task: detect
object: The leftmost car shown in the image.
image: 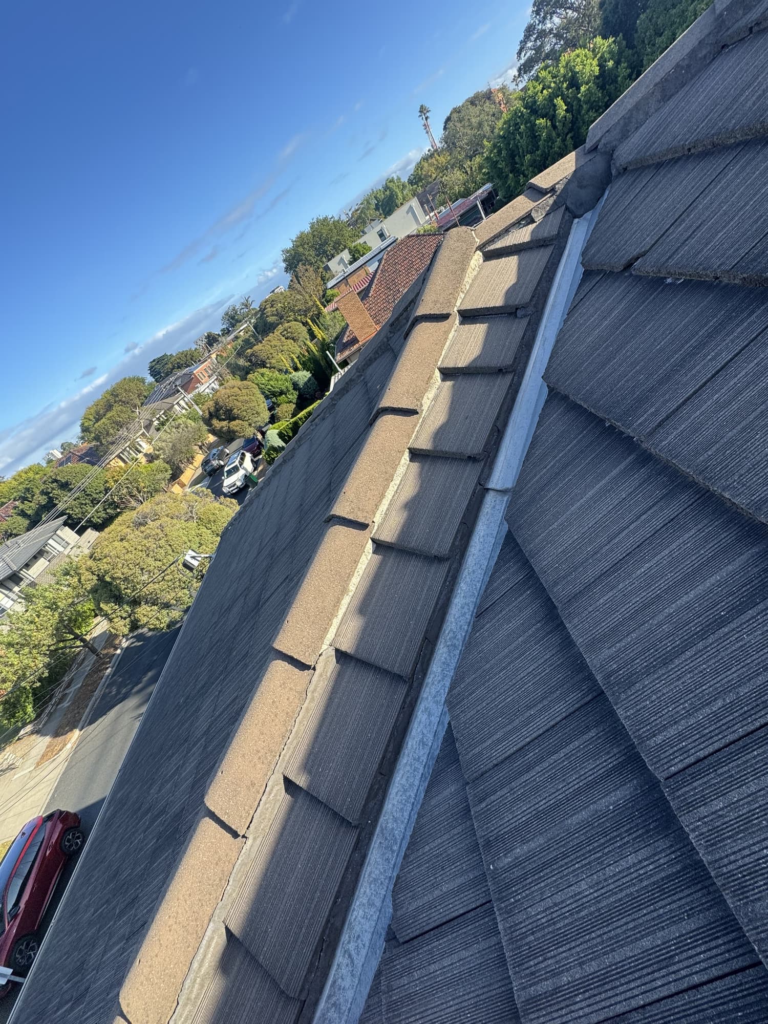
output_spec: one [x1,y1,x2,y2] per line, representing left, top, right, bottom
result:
[0,806,85,975]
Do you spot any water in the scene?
No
